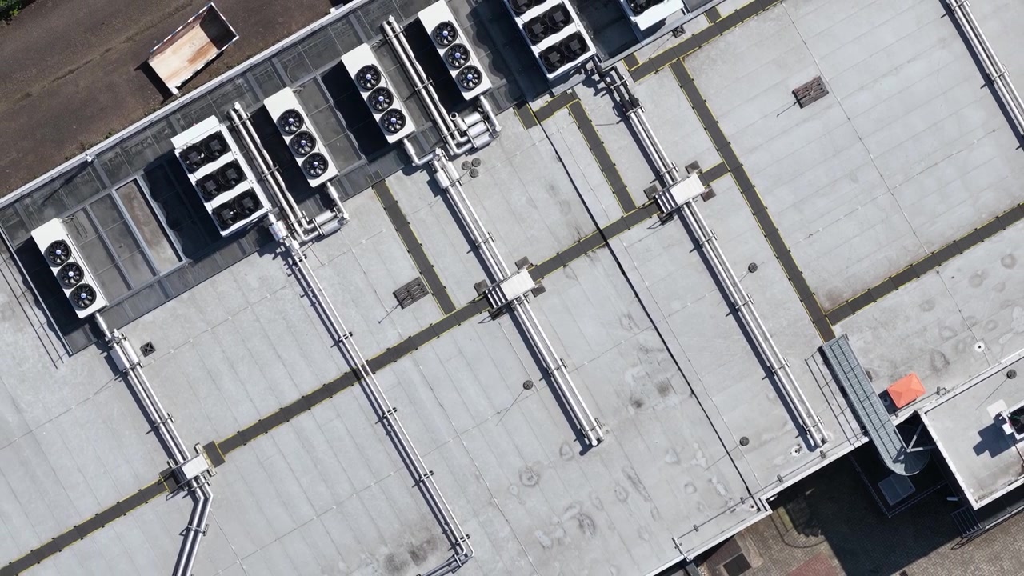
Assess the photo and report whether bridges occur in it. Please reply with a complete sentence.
Yes, the frame does contain a bridge.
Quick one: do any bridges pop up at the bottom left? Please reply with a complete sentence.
Yes, there is a bridge at the bottom left.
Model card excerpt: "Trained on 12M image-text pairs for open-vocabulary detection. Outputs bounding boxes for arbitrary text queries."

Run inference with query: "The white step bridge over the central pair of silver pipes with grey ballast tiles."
[481,257,546,318]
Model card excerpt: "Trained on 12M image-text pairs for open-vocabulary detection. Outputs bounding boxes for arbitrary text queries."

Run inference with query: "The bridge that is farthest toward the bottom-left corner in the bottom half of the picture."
[160,440,227,491]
